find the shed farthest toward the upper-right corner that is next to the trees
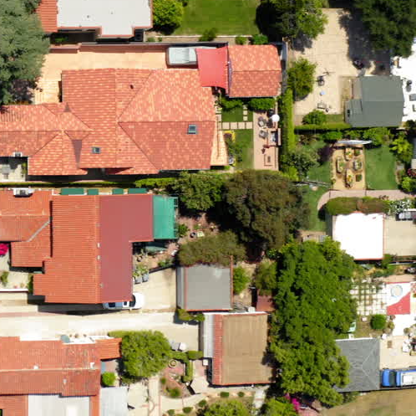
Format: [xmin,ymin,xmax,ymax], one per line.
[342,76,407,126]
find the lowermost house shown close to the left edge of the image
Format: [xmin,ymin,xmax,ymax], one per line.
[0,333,128,416]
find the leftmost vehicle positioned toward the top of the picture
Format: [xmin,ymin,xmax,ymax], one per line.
[161,45,208,67]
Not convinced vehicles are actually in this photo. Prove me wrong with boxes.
[380,367,416,389]
[97,292,144,313]
[161,45,208,67]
